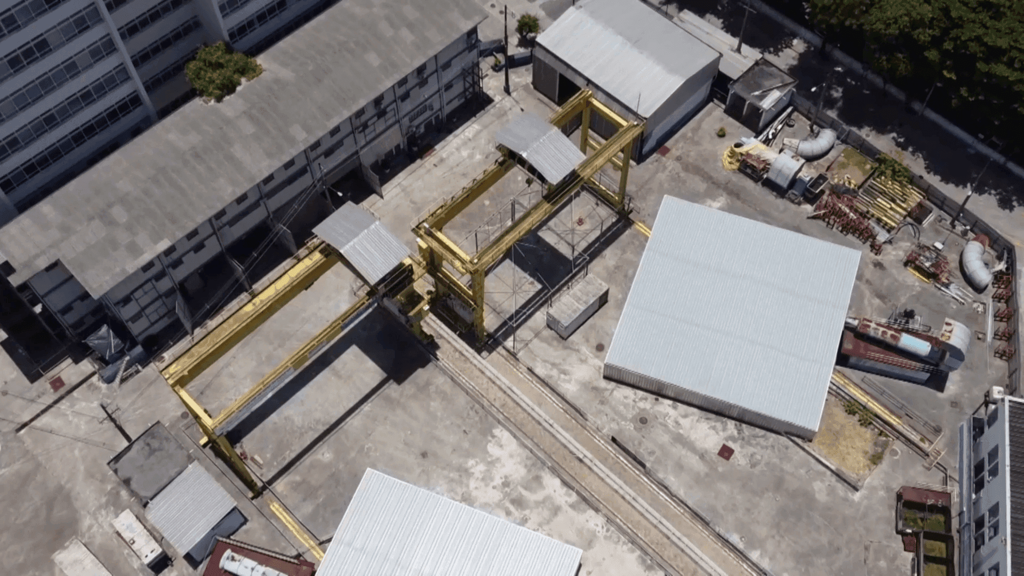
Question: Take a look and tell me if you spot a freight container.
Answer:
Yes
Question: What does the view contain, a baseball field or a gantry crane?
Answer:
gantry crane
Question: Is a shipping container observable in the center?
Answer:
Yes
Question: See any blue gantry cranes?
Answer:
No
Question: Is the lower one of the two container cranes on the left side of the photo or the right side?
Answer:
left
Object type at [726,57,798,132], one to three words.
shed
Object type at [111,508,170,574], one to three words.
trailer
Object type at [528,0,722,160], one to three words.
hangar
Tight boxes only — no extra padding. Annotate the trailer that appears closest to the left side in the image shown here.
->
[53,539,107,576]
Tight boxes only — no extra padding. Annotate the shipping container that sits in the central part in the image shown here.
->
[547,274,608,339]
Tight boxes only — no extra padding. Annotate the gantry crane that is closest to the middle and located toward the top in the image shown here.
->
[406,85,646,345]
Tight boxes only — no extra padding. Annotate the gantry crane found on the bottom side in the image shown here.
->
[154,238,441,497]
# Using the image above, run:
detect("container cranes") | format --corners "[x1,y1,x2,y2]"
[154,238,441,497]
[406,85,646,345]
